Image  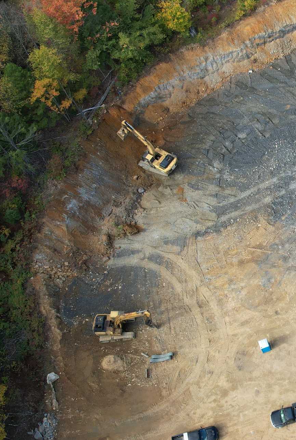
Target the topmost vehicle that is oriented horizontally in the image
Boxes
[84,313,154,343]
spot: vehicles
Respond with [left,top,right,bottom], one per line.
[170,426,219,440]
[84,313,154,343]
[269,402,296,428]
[124,122,182,176]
